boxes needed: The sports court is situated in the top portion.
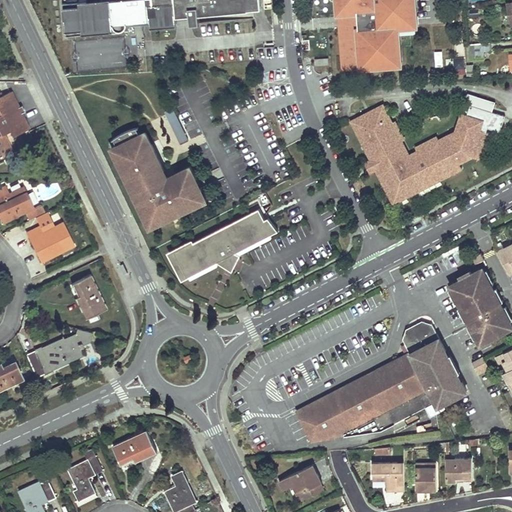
[74,36,128,73]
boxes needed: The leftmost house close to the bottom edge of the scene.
[18,482,56,512]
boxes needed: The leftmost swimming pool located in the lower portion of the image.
[82,344,100,366]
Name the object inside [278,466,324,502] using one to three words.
house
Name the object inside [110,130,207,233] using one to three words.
building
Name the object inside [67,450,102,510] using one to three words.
house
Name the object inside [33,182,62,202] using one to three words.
swimming pool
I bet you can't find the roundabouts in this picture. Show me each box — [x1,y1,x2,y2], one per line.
[125,294,242,425]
